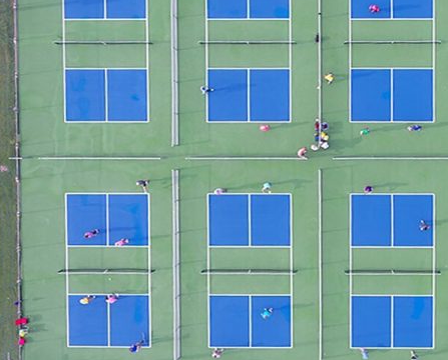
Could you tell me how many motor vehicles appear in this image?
none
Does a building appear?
No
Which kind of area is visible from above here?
sports ground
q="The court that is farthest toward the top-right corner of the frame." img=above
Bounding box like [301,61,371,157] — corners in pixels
[350,0,434,123]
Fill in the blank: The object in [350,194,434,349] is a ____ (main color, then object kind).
blue sports court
